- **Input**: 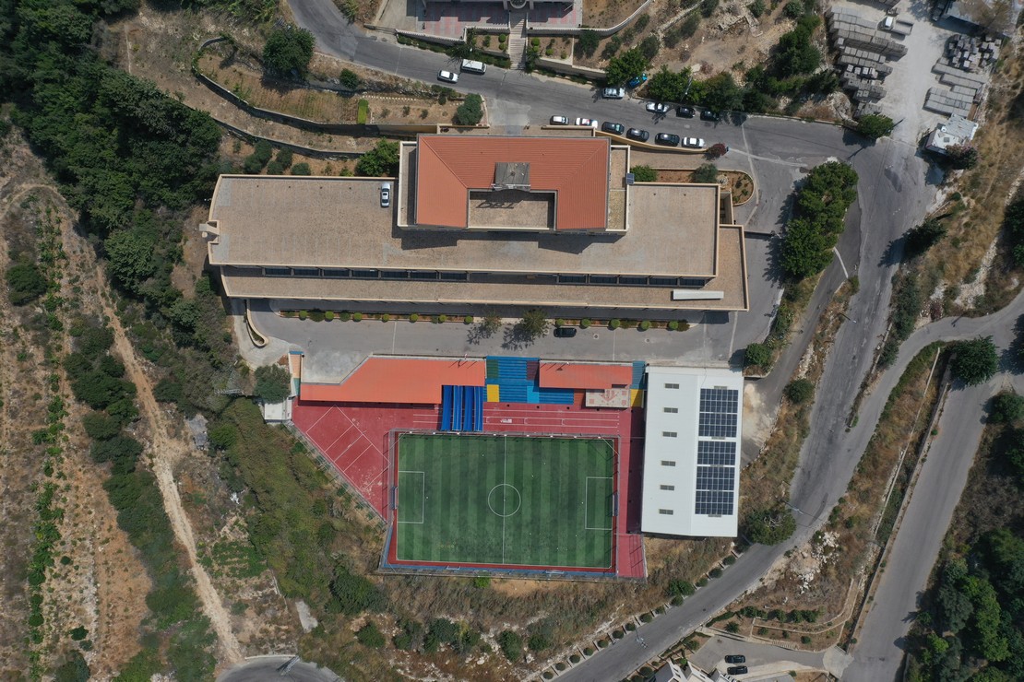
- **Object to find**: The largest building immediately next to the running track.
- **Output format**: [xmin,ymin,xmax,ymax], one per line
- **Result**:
[200,135,749,313]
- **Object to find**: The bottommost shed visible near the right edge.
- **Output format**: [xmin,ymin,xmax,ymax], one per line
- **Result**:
[922,114,978,155]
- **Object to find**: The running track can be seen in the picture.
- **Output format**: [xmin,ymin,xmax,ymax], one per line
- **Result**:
[412,407,637,430]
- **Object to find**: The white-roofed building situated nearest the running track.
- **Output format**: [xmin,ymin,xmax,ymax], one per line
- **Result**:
[639,367,744,538]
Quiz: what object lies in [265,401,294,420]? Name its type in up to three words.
shed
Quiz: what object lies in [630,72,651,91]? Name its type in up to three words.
work vehicle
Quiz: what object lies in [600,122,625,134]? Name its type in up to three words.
vehicle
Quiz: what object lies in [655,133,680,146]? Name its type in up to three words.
vehicle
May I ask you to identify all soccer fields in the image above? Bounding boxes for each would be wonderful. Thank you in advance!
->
[383,433,619,575]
